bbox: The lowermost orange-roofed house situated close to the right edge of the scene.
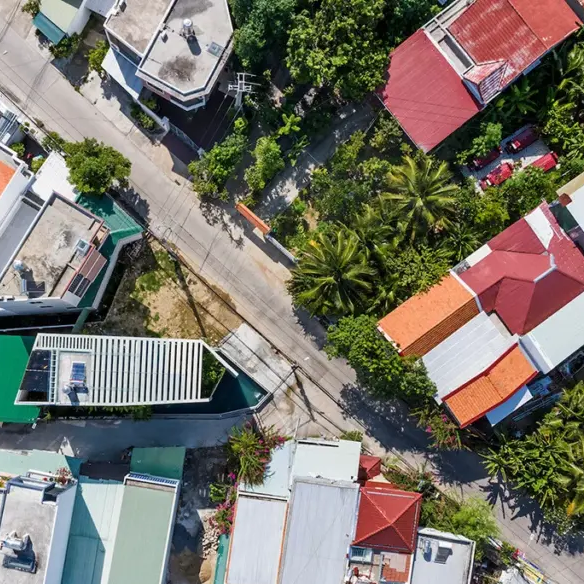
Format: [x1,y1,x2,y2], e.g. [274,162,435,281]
[432,342,560,433]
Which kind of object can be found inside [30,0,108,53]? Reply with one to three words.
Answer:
house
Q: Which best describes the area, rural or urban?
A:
urban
